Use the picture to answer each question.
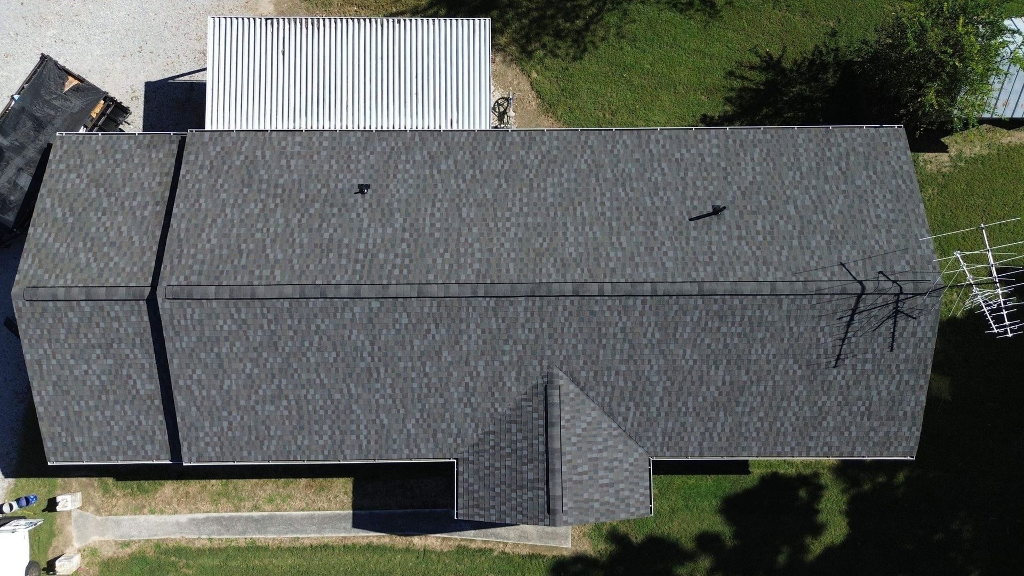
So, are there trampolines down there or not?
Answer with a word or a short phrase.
No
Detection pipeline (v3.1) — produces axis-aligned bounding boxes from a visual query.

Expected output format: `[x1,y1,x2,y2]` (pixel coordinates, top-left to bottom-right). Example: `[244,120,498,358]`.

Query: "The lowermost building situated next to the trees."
[12,123,945,526]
